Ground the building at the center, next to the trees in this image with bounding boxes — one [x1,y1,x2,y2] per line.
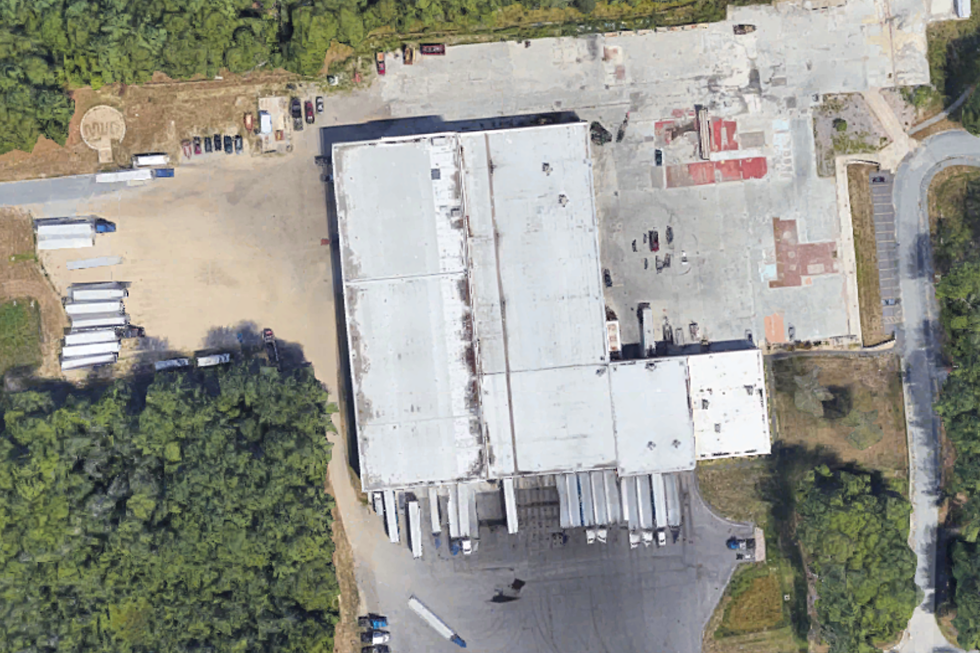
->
[333,122,771,493]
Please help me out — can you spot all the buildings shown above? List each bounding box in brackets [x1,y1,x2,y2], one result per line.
[952,0,970,19]
[333,122,771,493]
